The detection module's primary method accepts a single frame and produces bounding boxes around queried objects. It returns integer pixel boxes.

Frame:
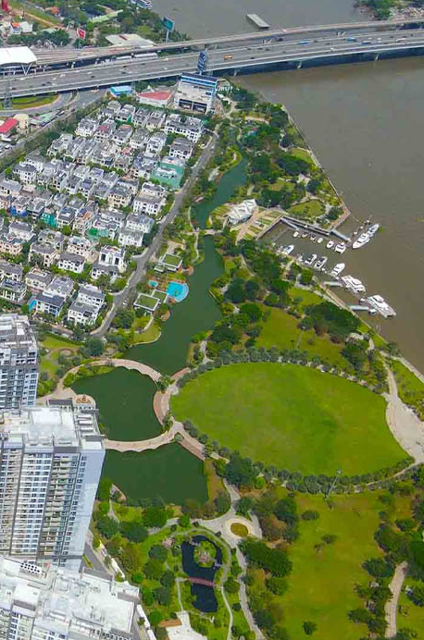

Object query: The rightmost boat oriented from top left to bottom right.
[366,294,397,316]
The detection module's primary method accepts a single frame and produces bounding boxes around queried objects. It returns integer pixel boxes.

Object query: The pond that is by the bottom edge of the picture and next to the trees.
[182,535,222,612]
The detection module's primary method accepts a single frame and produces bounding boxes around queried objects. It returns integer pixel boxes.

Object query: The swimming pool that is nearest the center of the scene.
[166,282,189,301]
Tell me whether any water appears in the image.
Yes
